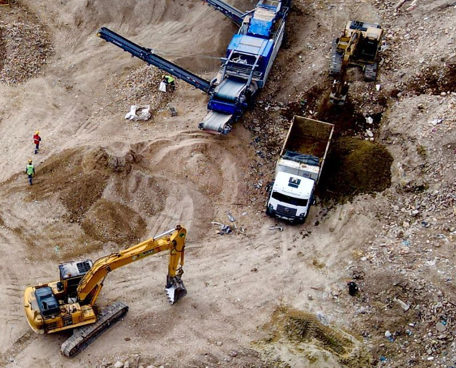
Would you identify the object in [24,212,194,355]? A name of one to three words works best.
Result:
work vehicle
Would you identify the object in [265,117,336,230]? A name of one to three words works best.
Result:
truck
